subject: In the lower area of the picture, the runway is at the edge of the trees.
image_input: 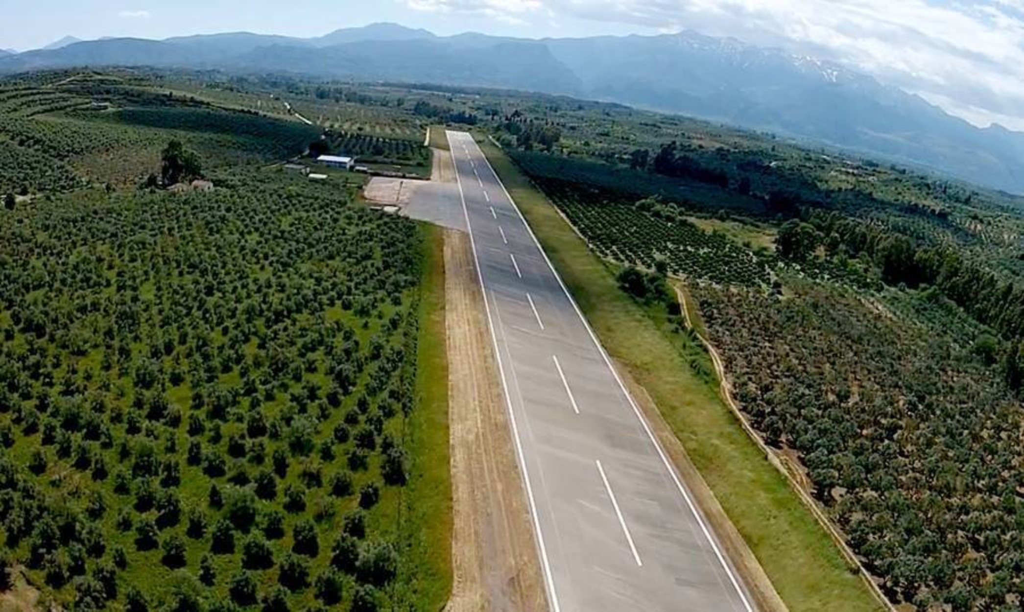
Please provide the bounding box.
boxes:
[447,131,757,612]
